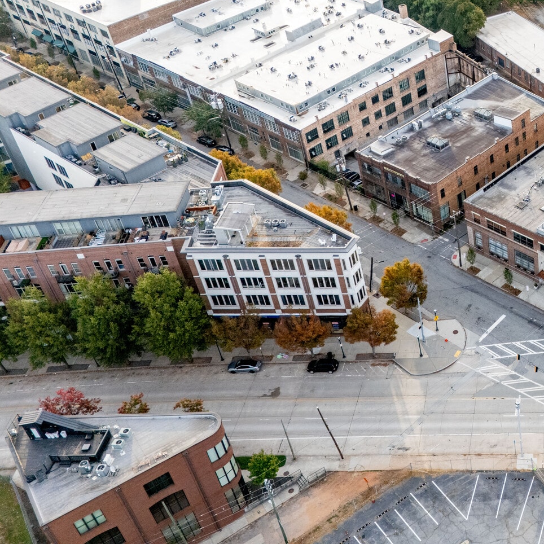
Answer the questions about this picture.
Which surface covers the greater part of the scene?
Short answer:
buildings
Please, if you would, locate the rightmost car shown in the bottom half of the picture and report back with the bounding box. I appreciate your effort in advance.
[305,357,340,375]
